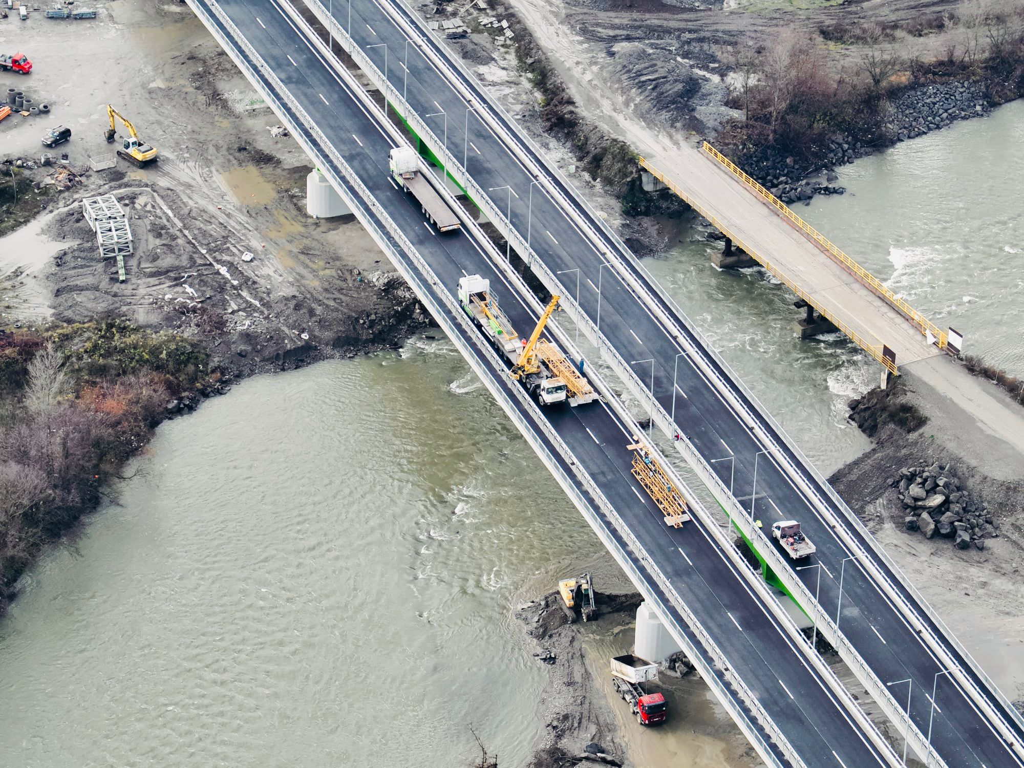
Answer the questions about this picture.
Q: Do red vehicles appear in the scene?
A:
Yes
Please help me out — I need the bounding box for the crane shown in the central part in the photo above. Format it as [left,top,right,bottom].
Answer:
[513,287,569,406]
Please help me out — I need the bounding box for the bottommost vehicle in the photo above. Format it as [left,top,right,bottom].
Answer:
[604,648,667,724]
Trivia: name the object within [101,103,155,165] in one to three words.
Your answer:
work vehicle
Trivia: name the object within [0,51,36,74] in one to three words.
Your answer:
truck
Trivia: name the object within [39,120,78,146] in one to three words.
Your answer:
car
